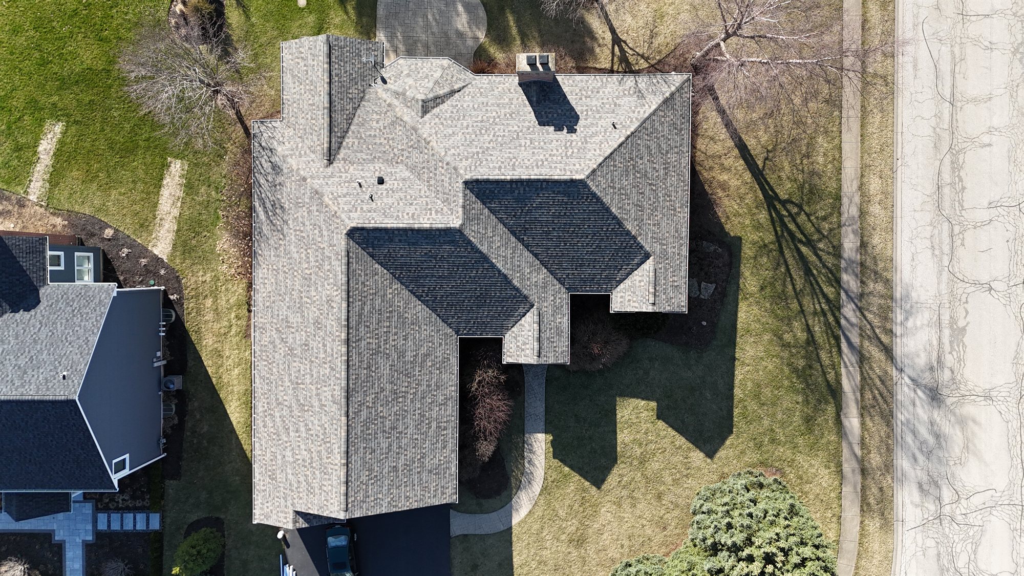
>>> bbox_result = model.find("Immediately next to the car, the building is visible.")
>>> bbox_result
[251,33,694,532]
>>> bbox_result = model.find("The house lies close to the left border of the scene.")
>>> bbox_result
[0,233,176,521]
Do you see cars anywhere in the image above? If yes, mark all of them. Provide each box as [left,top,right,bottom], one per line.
[323,520,360,576]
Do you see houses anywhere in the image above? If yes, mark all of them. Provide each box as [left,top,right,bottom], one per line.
[251,33,694,532]
[0,233,176,521]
